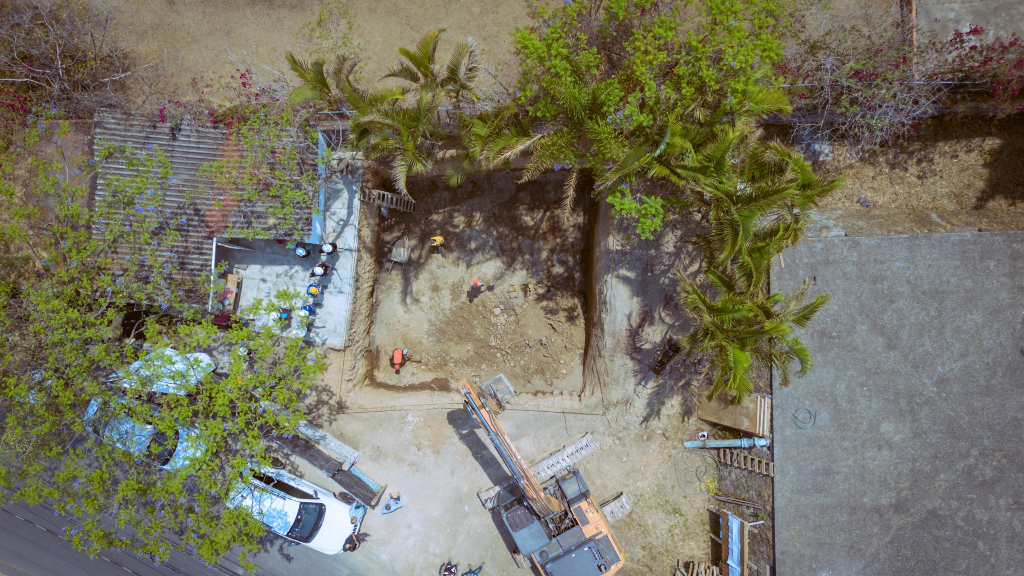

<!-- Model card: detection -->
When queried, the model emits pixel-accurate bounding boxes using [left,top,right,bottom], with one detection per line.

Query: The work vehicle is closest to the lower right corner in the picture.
[460,369,635,576]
